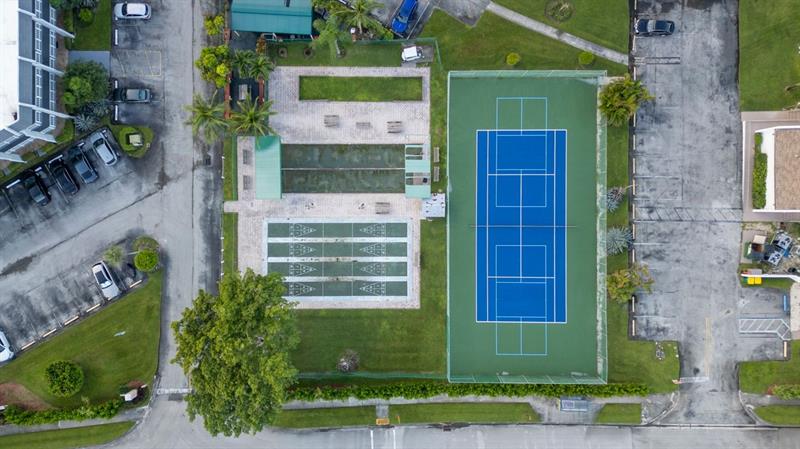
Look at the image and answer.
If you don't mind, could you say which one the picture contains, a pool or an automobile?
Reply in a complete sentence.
I can see an automobile in this picture.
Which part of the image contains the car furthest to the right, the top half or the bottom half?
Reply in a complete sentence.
It is in the top half that the car furthest to the right appears.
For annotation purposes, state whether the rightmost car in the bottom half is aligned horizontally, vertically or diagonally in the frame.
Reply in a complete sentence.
The rightmost car in the bottom half runs diagonally in the image.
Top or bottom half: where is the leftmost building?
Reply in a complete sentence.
You can find the leftmost building in the top half.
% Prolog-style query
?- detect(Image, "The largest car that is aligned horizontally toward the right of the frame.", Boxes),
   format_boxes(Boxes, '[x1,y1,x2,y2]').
[637,15,677,35]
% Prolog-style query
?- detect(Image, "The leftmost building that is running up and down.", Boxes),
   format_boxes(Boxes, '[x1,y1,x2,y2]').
[0,0,73,166]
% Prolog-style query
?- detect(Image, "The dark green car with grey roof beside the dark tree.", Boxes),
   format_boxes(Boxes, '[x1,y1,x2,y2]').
[109,84,149,102]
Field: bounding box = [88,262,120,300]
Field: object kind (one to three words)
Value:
car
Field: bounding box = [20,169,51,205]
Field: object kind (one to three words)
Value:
car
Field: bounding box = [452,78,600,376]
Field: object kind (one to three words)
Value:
tennis court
